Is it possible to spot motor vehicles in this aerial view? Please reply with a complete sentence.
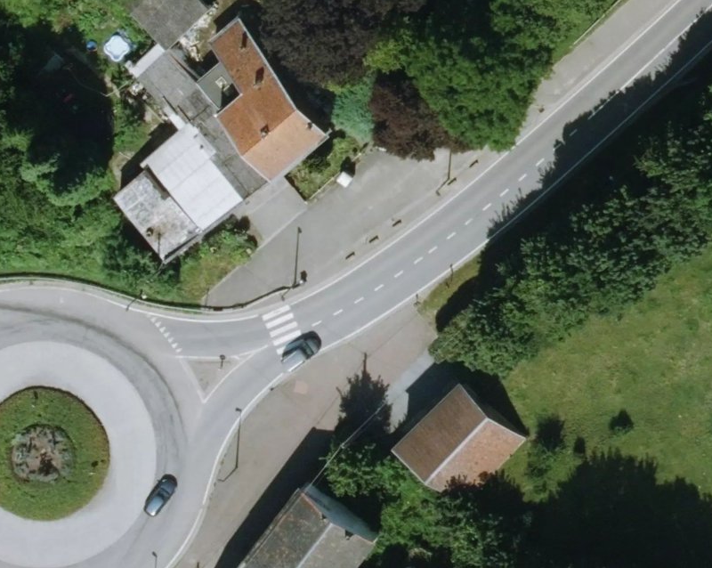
Yes, there is a motor vehicle in the image.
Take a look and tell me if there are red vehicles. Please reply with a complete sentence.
No, I find no red vehicle anywhere in the image.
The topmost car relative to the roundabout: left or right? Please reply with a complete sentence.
Relative to the roundabout, the topmost car is on the right.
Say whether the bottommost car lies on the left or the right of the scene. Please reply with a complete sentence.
The bottommost car is on the left side of the image.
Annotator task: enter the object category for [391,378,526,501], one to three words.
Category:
barn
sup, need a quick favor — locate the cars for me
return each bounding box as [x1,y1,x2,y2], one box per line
[144,474,178,517]
[279,330,325,367]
